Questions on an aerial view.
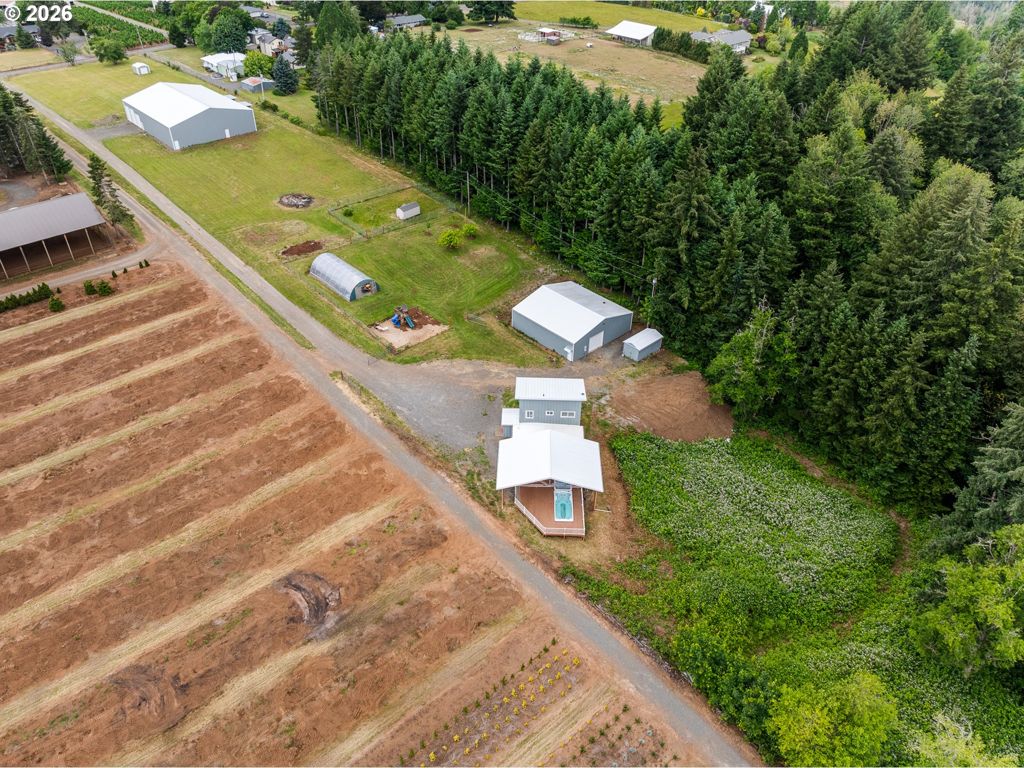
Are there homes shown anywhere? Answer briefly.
Yes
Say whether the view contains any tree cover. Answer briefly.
Yes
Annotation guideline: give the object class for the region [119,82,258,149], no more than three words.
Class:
barn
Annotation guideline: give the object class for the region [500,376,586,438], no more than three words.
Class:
house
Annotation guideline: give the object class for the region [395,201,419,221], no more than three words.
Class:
shed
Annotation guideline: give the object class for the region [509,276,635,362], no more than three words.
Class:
building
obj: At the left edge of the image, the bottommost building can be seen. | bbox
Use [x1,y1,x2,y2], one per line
[0,196,111,279]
